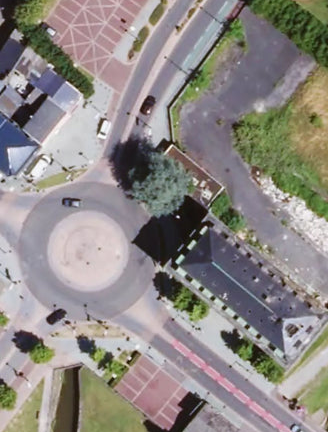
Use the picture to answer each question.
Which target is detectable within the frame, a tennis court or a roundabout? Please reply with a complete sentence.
There is a roundabout in the scene.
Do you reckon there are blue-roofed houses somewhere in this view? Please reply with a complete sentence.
Yes, looking at the shot, I can spot a blue-roofed house.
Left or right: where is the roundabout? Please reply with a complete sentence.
The roundabout is on the left side of the image.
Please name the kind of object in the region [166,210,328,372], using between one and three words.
building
